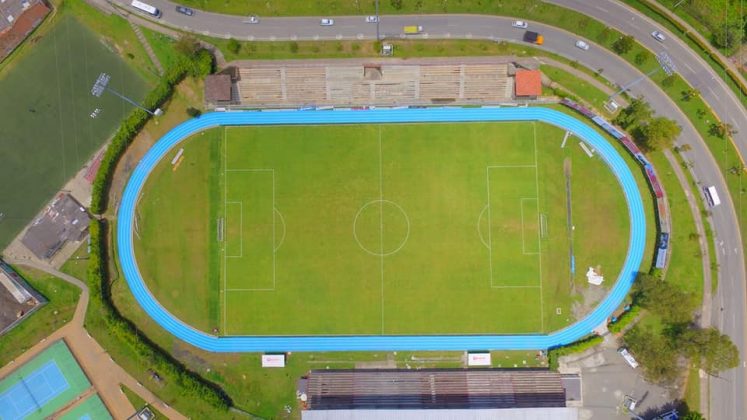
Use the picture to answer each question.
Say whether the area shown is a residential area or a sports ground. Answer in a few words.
sports ground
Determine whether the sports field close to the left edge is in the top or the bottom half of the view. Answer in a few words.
top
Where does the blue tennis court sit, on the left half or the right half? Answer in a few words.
left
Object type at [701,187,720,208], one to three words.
vehicle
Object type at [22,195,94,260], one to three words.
building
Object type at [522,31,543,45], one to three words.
vehicle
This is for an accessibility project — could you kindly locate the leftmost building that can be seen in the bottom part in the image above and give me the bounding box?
[0,257,53,337]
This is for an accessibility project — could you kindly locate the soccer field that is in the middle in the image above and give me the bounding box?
[222,124,544,336]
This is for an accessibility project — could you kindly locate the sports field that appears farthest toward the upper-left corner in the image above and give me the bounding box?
[0,15,154,252]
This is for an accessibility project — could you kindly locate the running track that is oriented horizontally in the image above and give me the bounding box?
[118,109,645,353]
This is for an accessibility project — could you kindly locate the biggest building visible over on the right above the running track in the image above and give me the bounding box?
[512,70,542,100]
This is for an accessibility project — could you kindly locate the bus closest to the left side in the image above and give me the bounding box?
[131,0,163,20]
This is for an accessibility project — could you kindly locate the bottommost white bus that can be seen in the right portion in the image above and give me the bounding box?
[614,344,637,370]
